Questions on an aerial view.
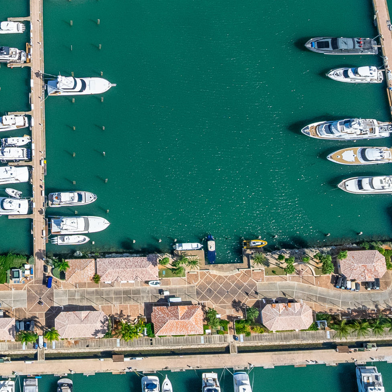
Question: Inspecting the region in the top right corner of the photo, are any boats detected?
Yes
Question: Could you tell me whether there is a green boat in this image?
No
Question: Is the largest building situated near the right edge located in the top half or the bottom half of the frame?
bottom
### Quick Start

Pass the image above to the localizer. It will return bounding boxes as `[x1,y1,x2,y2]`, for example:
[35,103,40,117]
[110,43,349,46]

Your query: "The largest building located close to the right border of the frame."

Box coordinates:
[338,251,387,283]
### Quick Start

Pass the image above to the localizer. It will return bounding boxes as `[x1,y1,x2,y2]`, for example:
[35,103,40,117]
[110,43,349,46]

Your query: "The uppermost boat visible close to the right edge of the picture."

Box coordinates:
[305,37,379,57]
